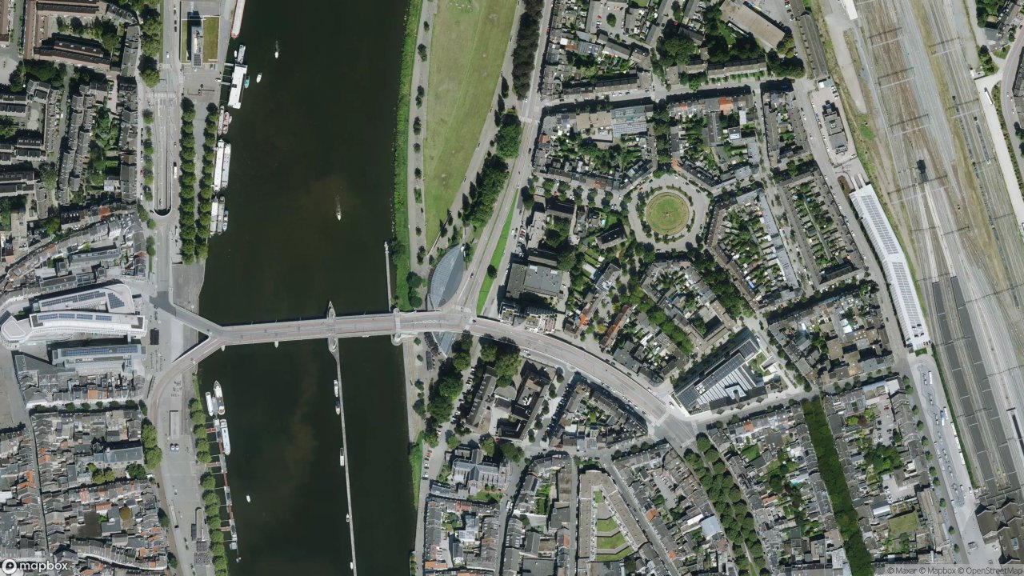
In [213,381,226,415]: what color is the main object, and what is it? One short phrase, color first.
white boat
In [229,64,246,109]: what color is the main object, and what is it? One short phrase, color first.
white boat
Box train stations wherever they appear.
[932,276,1024,576]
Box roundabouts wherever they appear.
[641,187,693,239]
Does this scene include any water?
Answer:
Yes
